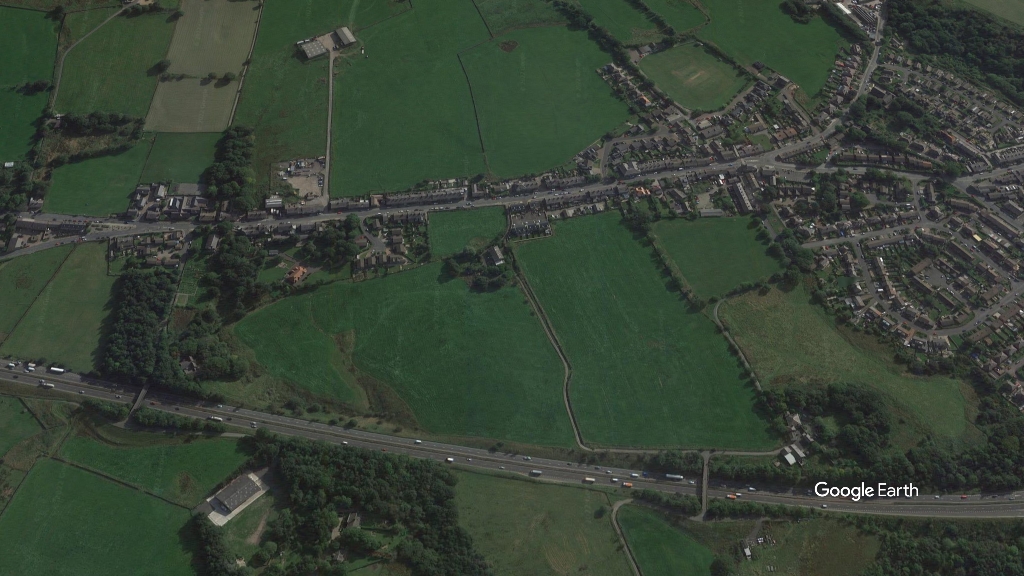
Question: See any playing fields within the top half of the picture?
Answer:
Yes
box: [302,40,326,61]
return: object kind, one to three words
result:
barn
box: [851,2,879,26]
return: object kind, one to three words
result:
building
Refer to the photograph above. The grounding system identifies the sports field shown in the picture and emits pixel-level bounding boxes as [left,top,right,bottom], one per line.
[641,41,748,112]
